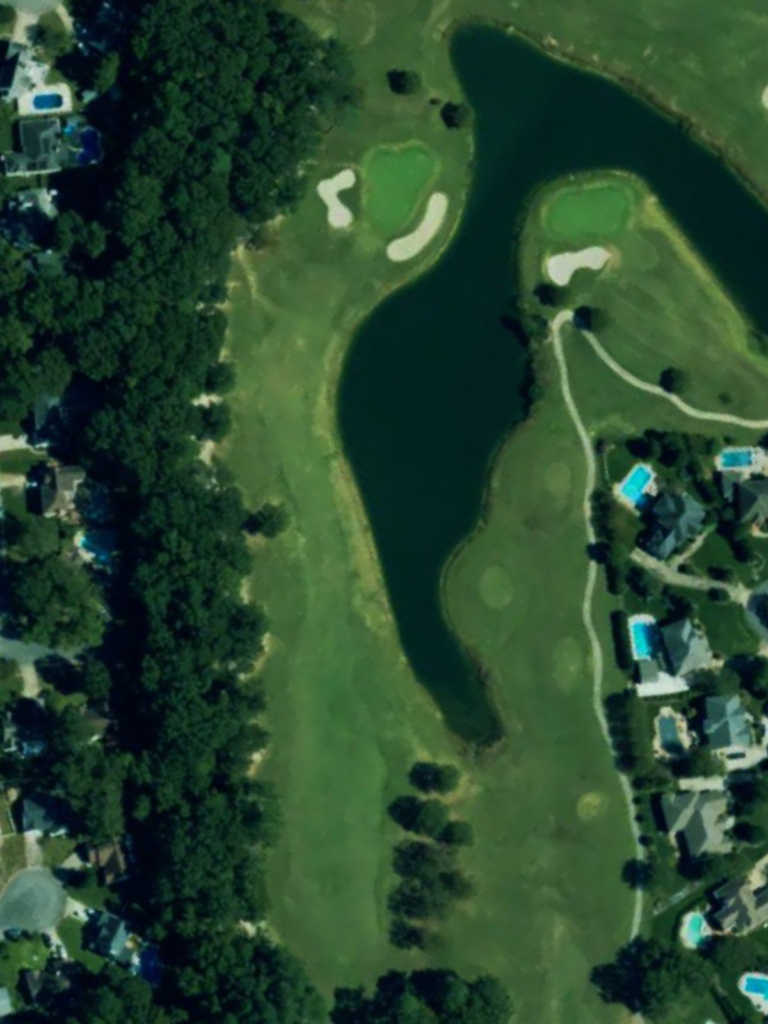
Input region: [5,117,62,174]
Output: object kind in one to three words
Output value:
house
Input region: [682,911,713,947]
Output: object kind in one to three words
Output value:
swimming pool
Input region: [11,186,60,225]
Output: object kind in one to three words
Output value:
house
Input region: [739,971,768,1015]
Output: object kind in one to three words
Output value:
swimming pool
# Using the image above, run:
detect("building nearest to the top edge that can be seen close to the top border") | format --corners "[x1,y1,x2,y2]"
[0,41,44,102]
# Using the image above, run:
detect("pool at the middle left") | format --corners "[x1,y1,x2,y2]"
[73,528,120,562]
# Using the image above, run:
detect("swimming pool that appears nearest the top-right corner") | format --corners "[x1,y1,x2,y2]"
[716,446,768,474]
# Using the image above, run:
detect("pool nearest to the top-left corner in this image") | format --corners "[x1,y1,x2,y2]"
[18,84,72,115]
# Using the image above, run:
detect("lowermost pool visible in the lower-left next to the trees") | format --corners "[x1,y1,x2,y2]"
[132,948,161,987]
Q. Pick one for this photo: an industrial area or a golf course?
golf course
